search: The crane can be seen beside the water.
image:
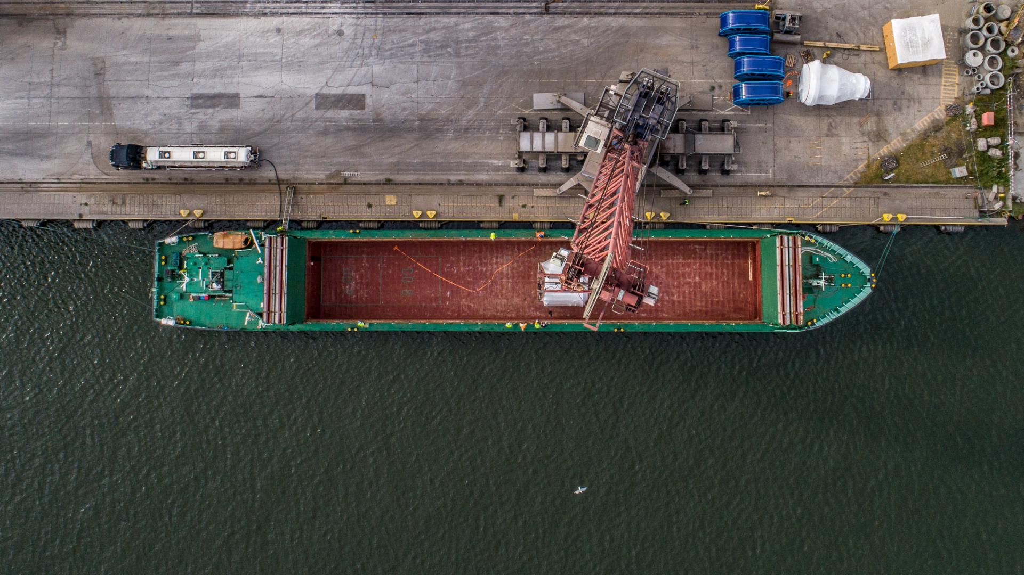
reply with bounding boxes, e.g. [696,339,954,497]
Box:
[510,65,742,331]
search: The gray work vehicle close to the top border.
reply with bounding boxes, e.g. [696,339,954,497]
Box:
[771,9,804,43]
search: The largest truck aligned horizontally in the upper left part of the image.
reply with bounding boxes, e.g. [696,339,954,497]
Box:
[108,140,259,173]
